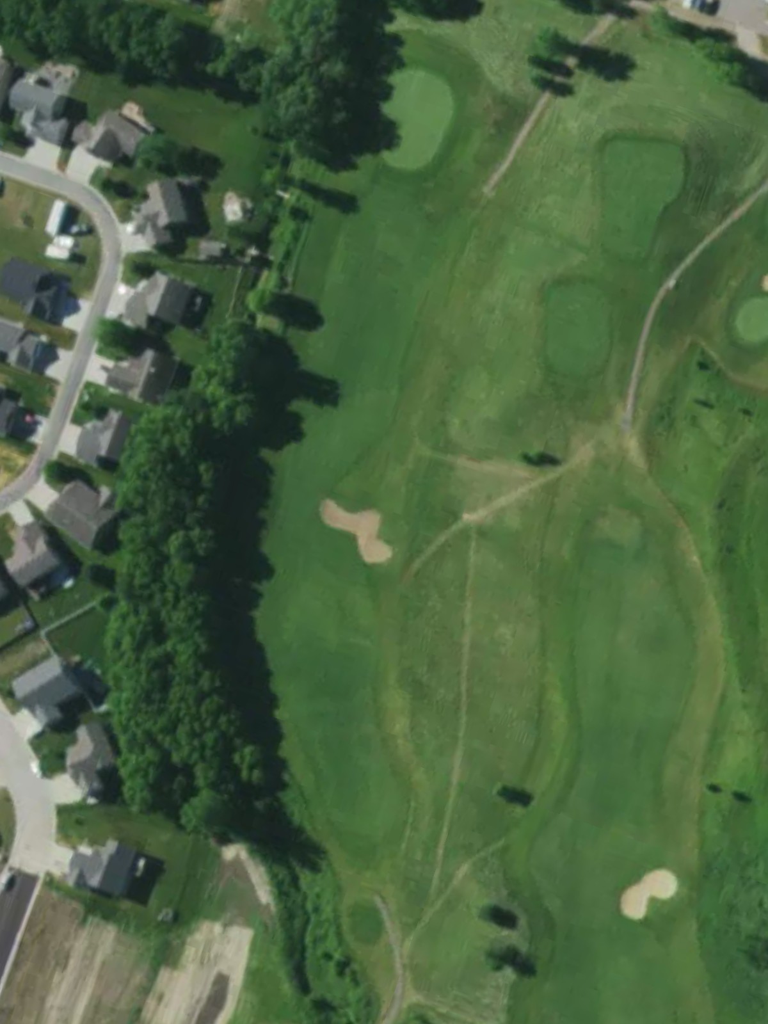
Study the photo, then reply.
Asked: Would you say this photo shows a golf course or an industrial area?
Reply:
golf course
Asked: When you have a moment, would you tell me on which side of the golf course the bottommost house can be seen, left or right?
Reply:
to the left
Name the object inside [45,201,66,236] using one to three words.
vehicle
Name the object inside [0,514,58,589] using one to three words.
house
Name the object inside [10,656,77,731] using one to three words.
house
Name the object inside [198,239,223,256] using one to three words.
shed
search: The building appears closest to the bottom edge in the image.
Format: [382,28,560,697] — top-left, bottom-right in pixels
[64,837,137,900]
